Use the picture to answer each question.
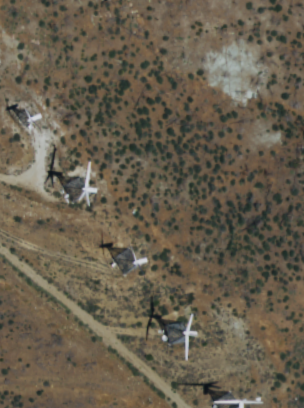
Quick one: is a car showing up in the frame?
No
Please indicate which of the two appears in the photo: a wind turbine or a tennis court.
wind turbine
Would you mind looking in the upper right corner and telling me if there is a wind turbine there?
No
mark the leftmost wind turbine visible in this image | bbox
[13,107,38,129]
